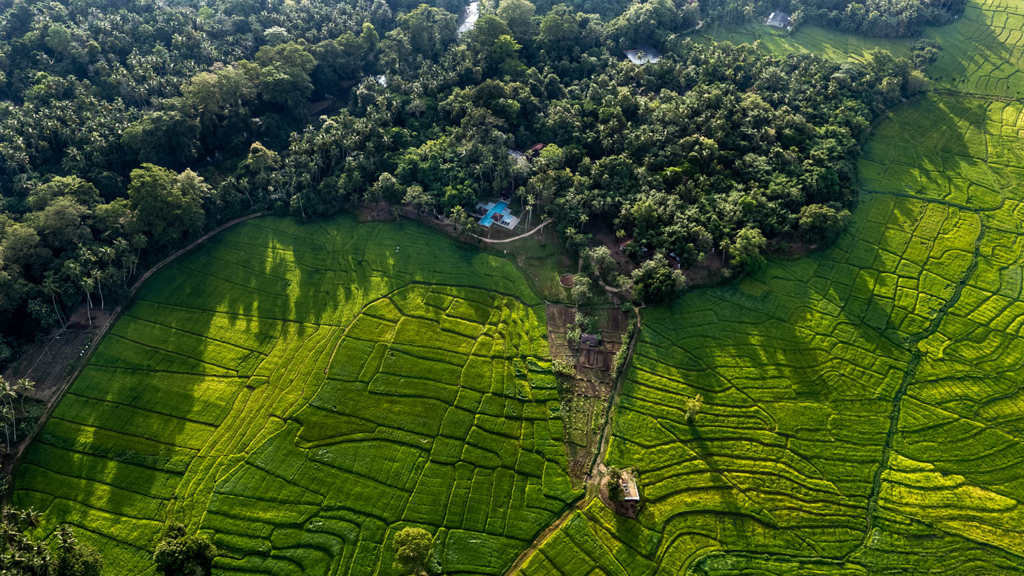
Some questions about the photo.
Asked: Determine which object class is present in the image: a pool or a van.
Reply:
pool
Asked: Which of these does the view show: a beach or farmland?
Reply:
farmland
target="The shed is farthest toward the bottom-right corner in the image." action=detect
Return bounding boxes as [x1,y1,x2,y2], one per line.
[620,468,640,505]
